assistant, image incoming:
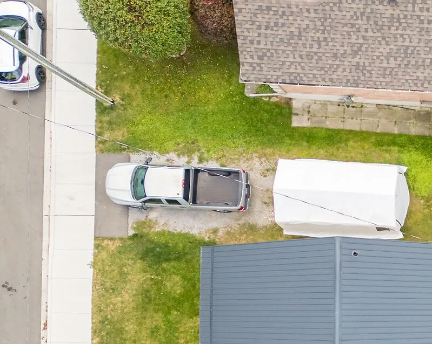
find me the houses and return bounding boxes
[237,0,432,104]
[198,235,432,344]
